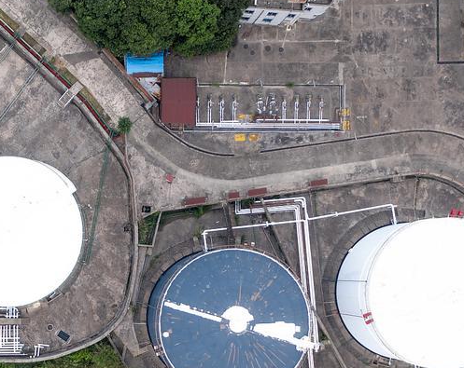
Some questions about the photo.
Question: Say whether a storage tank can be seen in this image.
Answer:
Yes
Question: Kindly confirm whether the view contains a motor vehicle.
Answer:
No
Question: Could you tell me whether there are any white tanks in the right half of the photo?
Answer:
Yes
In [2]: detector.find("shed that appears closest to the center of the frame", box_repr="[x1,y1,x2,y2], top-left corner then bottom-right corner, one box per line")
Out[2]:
[158,77,196,129]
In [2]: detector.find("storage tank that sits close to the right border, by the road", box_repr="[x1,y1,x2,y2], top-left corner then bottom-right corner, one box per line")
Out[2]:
[329,211,464,368]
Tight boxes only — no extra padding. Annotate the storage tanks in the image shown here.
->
[0,154,86,311]
[329,211,464,368]
[141,245,328,368]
